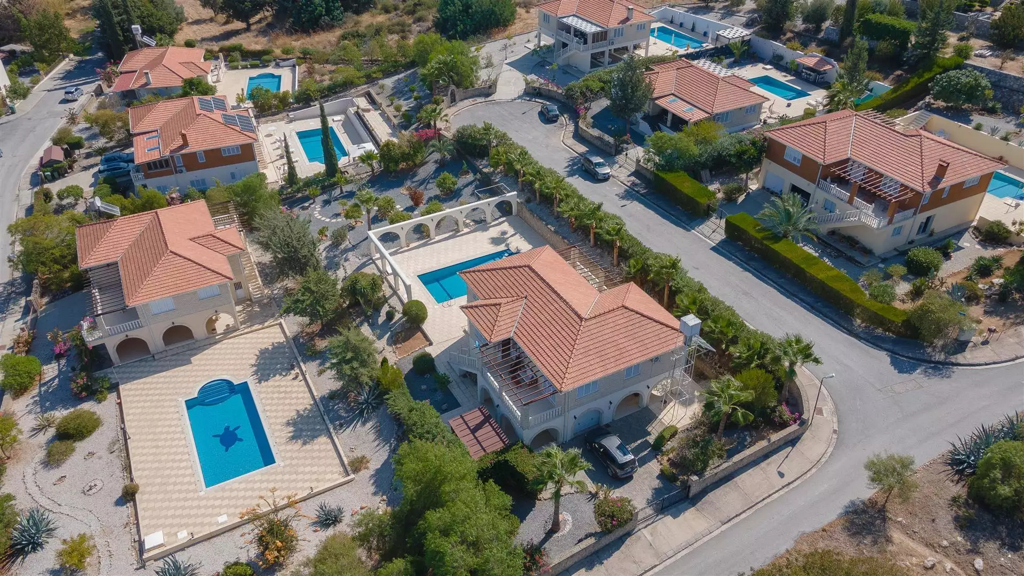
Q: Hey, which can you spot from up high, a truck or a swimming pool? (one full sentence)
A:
Visible in the photo is a swimming pool.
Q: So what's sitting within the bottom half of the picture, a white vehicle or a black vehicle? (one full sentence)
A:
Visible within the bottom half of the picture is a black vehicle.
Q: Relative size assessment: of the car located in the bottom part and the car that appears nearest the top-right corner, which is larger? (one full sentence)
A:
The car located in the bottom part is bigger than the car that appears nearest the top-right corner.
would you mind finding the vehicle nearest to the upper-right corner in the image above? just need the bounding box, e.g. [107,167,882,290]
[583,152,609,176]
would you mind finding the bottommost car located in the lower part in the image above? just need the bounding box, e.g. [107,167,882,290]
[587,426,641,477]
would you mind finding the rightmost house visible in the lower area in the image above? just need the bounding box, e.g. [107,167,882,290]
[451,244,698,456]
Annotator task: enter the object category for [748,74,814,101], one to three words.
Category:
swimming pool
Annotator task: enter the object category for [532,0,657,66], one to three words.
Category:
house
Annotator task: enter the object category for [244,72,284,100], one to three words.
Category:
swimming pool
